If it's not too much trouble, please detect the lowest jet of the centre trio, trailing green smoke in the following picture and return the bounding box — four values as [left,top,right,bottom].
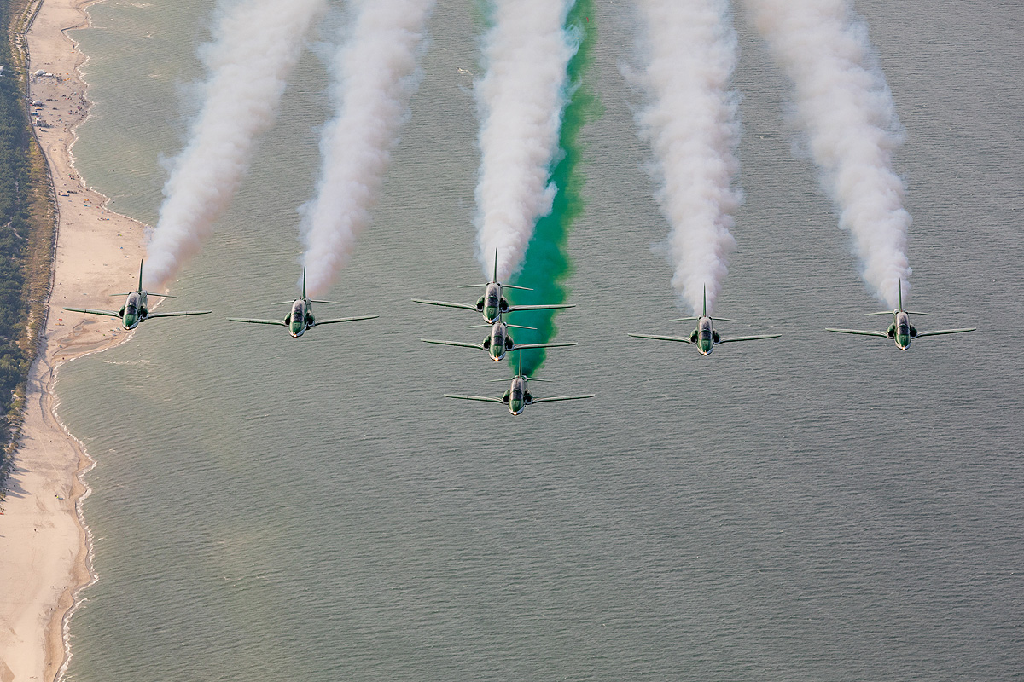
[442,347,594,416]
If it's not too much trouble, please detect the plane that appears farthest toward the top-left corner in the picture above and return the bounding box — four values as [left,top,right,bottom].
[64,258,212,329]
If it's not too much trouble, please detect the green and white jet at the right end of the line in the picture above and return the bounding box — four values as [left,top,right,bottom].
[824,277,976,348]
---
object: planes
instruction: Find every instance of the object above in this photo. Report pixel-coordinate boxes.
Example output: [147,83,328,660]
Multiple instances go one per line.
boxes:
[627,281,781,354]
[64,258,212,329]
[824,277,976,348]
[422,313,579,360]
[227,264,378,336]
[442,347,594,416]
[411,245,575,323]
